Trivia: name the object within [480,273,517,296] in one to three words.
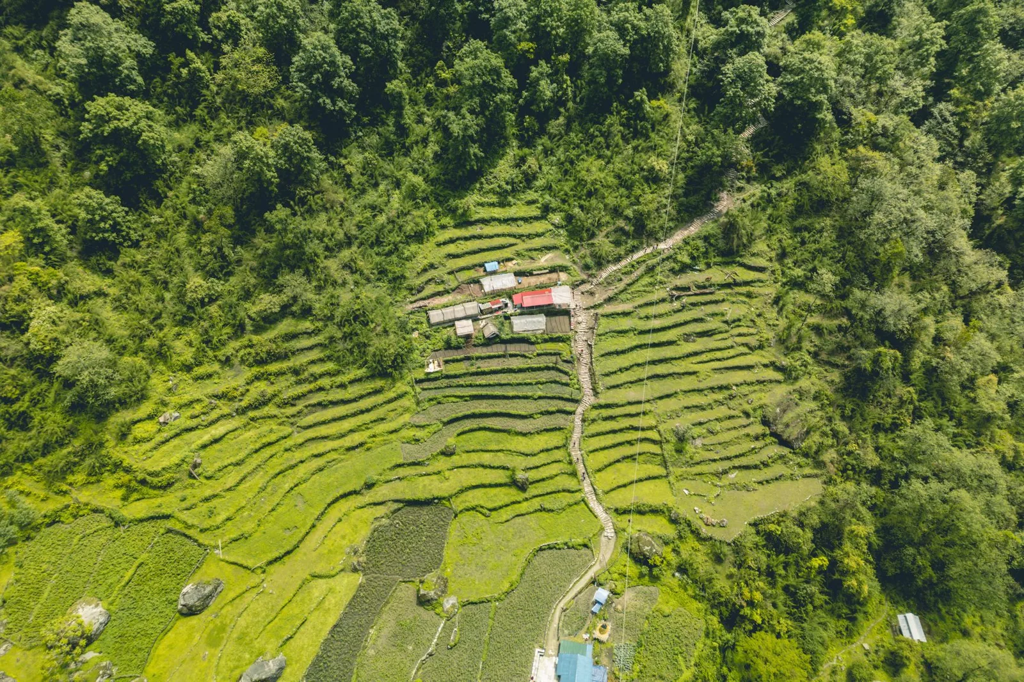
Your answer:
barn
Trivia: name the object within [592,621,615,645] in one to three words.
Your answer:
building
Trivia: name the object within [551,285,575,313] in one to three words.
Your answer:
house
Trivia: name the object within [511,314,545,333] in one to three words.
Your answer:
greenhouse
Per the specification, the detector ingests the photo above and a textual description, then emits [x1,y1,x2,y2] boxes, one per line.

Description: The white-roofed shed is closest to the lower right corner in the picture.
[895,613,927,643]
